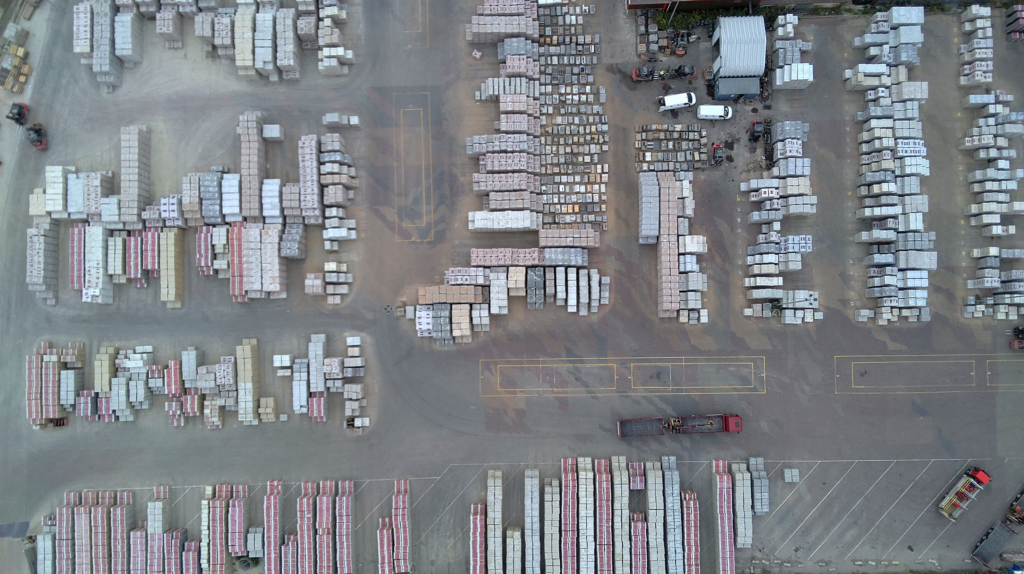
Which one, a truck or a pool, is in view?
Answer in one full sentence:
There is a truck in the scene.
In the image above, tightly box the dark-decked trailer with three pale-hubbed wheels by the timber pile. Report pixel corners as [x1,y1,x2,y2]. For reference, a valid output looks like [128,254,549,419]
[972,521,1021,568]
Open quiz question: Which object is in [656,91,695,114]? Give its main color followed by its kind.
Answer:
white vehicle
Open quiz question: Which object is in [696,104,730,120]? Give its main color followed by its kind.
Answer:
white vehicle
